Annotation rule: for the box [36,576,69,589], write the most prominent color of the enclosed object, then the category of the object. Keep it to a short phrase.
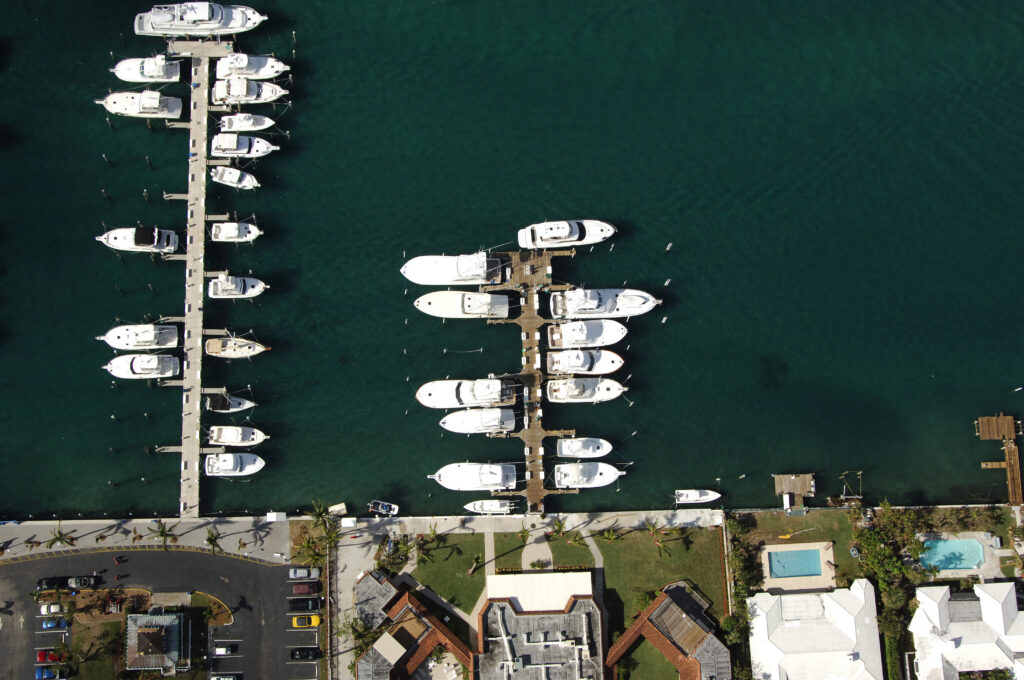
black vehicle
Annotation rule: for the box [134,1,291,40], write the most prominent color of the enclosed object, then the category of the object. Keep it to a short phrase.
white boat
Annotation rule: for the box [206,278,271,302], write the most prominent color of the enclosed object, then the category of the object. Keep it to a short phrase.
white boat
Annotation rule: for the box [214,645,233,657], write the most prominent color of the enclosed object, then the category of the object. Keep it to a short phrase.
white vehicle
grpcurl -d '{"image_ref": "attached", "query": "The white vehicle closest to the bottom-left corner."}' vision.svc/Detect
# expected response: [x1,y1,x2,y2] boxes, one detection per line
[39,603,64,616]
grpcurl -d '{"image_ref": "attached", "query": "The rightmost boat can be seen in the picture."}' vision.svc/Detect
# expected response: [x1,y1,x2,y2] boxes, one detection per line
[671,479,722,504]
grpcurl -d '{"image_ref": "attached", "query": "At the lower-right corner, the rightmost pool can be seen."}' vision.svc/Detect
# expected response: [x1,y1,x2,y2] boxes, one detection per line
[901,532,1004,584]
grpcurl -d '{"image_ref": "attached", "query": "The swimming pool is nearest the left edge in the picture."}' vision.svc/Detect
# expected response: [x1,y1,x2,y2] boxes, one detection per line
[761,542,835,593]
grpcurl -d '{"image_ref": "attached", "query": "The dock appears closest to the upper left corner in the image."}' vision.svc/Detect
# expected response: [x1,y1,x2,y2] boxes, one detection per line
[156,41,233,519]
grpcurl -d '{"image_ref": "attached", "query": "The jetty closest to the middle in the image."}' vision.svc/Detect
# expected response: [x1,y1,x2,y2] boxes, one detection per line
[480,251,578,516]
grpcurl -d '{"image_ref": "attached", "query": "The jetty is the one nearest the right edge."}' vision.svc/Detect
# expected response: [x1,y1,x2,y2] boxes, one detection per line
[971,413,1024,506]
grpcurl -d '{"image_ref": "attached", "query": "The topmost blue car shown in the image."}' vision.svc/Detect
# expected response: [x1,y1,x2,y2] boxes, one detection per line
[41,617,68,630]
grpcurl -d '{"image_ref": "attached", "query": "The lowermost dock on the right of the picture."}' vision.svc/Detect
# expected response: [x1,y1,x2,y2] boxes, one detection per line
[769,473,814,516]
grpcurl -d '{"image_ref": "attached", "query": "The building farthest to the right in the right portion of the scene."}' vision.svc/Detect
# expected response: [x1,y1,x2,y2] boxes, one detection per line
[907,582,1024,680]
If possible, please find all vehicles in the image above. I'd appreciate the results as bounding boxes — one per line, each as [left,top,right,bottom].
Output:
[39,603,64,616]
[67,576,96,589]
[41,617,68,630]
[289,567,320,580]
[292,614,321,628]
[214,645,233,657]
[37,650,66,663]
[36,576,69,589]
[210,674,235,680]
[34,668,63,680]
[288,598,321,611]
[292,582,323,596]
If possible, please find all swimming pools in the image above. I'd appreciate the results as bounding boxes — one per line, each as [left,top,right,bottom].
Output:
[761,542,835,593]
[901,532,1004,584]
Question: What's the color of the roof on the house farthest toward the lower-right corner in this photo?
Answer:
white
